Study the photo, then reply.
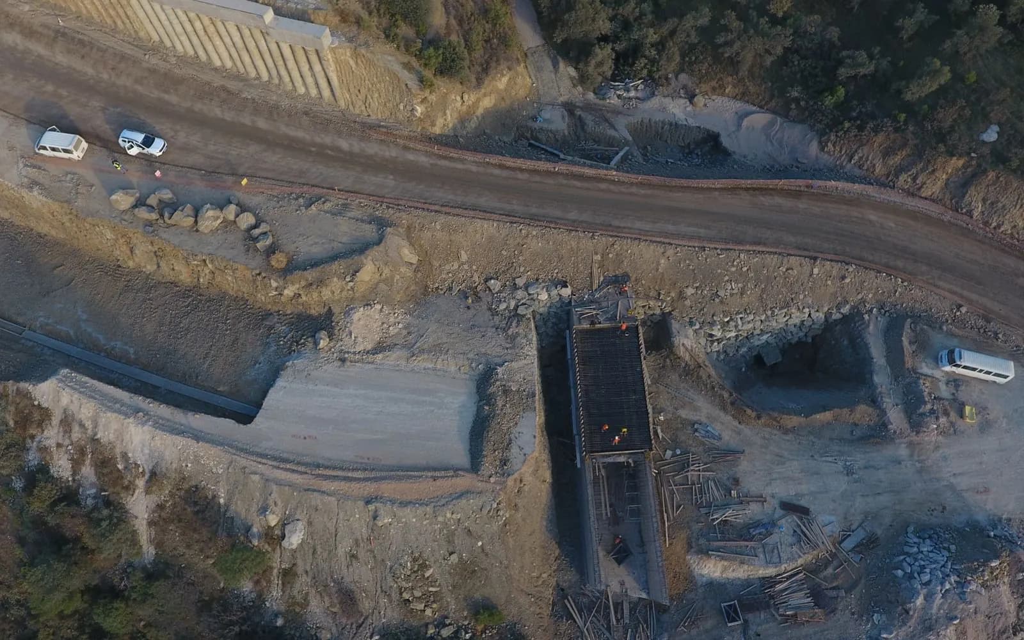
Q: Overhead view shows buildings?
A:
No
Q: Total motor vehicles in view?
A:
3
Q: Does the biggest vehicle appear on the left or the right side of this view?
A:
right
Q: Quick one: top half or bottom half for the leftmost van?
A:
top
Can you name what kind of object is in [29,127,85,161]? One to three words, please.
van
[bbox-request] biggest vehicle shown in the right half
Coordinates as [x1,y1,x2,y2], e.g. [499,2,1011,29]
[937,349,1015,383]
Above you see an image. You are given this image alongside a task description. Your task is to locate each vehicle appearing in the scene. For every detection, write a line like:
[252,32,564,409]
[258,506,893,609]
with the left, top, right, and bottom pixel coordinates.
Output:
[29,127,85,161]
[937,349,1015,383]
[119,129,167,157]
